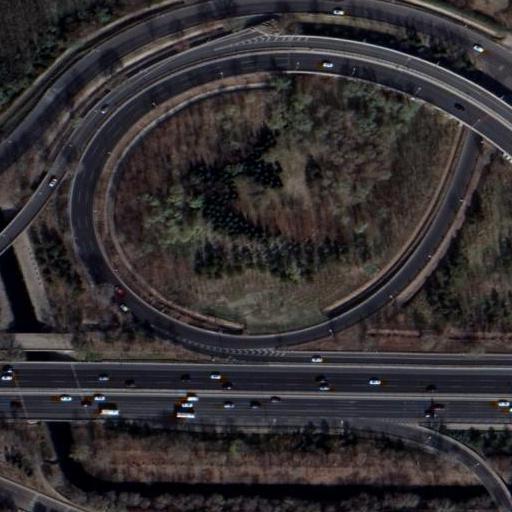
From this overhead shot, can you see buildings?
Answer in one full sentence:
No, no building can be seen from above.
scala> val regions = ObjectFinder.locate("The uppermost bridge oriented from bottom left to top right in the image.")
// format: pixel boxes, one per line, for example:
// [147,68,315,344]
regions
[0,170,54,252]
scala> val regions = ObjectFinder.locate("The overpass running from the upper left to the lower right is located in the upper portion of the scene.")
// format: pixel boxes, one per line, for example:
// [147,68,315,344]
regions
[429,66,512,159]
